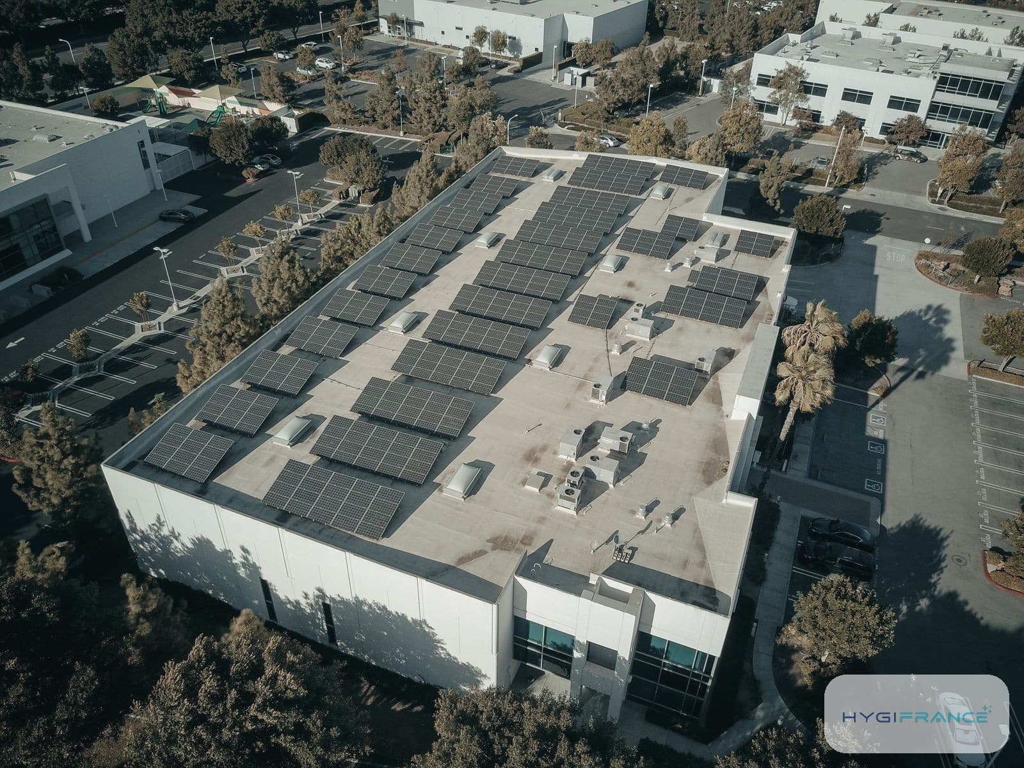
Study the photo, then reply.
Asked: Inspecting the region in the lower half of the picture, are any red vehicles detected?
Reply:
No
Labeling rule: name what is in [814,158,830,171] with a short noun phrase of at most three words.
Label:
vehicle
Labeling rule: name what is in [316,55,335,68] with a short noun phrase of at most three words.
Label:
vehicle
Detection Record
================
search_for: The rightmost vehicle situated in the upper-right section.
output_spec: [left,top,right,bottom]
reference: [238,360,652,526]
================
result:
[894,142,926,162]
